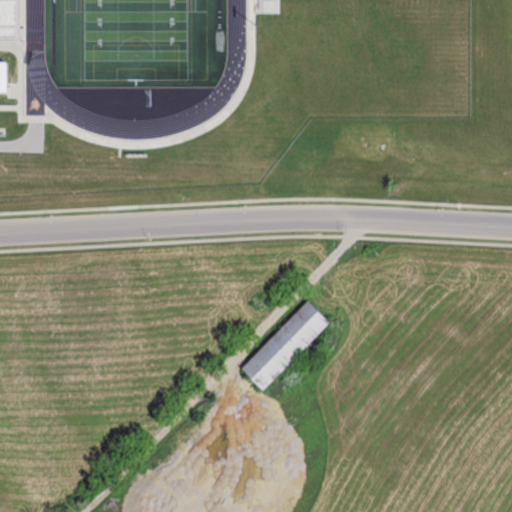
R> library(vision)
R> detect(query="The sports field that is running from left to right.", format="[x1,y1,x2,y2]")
[46,0,227,86]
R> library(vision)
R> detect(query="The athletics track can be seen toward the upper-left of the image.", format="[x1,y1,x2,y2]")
[27,0,246,138]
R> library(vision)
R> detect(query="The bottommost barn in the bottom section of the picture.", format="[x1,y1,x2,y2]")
[241,302,329,390]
